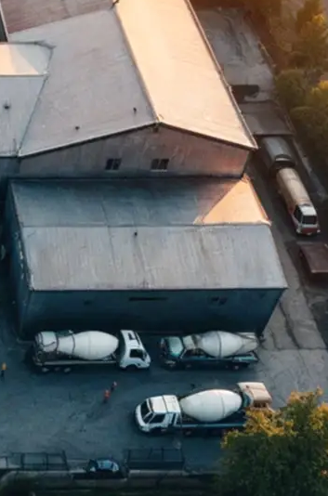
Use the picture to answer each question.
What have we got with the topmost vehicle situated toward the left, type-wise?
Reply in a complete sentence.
In the photo, the topmost vehicle situated toward the left shows up as a truck.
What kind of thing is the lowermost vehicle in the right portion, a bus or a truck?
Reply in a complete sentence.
What you see as the lowermost vehicle in the right portion is a truck.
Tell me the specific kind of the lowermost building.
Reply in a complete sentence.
The lowermost building in the image is a warehouse.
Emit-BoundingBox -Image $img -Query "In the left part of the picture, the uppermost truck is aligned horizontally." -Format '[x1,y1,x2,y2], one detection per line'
[32,323,154,375]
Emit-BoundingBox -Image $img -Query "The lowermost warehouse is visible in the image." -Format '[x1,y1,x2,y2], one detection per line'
[2,174,285,333]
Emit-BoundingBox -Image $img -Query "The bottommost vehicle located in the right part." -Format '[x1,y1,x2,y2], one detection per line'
[136,373,286,440]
